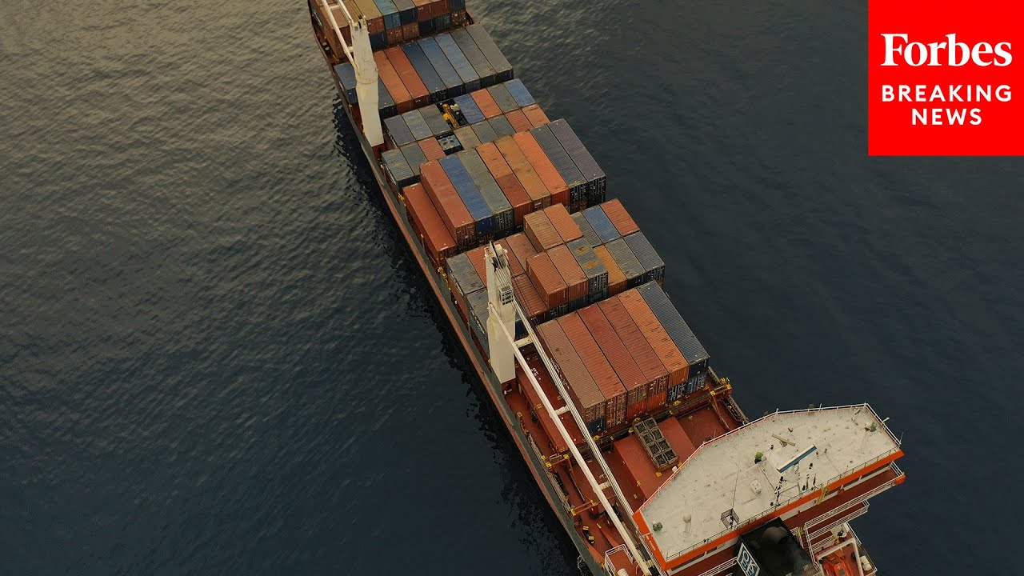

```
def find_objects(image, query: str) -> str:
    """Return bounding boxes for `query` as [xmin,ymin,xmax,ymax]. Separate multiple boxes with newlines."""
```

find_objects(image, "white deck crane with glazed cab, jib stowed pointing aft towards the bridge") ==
[483,243,657,576]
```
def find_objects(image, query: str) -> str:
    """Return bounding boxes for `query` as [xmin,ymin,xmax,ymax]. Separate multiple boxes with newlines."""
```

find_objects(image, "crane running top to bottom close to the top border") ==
[319,0,389,150]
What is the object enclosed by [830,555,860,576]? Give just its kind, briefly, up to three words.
boat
